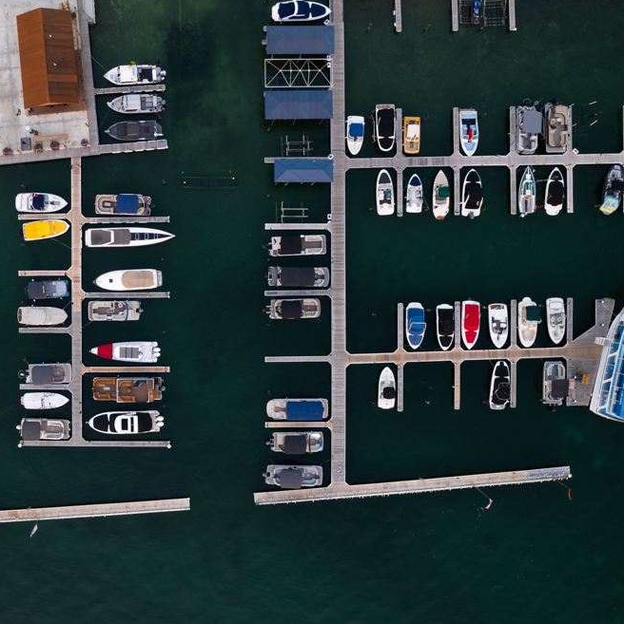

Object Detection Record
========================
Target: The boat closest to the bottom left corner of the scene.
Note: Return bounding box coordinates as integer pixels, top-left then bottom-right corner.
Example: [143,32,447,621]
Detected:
[15,418,70,440]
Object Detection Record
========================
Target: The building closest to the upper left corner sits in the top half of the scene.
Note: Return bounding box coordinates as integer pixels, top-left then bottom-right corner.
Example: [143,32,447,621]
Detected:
[17,5,86,116]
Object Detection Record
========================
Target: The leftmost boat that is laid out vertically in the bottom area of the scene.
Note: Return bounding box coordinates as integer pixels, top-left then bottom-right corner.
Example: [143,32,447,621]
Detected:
[375,367,395,409]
